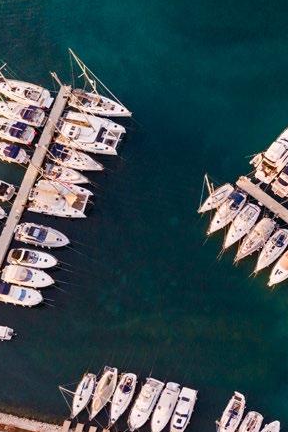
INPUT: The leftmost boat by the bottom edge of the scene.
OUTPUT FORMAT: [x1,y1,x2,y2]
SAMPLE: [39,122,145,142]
[58,372,98,425]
